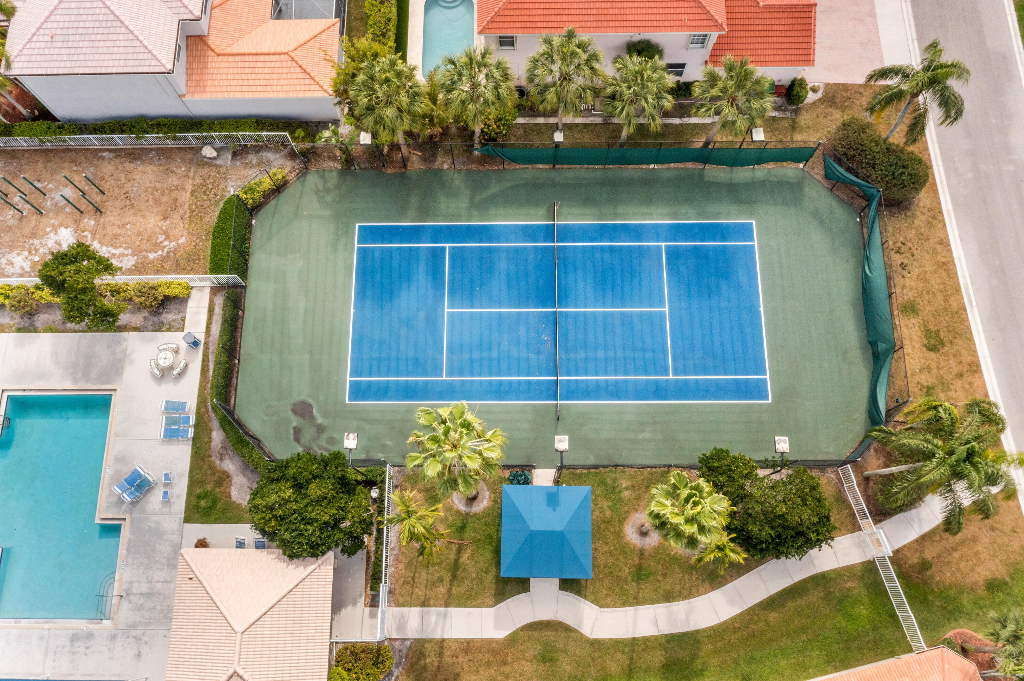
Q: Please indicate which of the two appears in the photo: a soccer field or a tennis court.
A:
tennis court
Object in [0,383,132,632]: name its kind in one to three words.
swimming pool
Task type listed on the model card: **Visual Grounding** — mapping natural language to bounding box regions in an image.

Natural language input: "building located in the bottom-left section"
[165,551,335,681]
